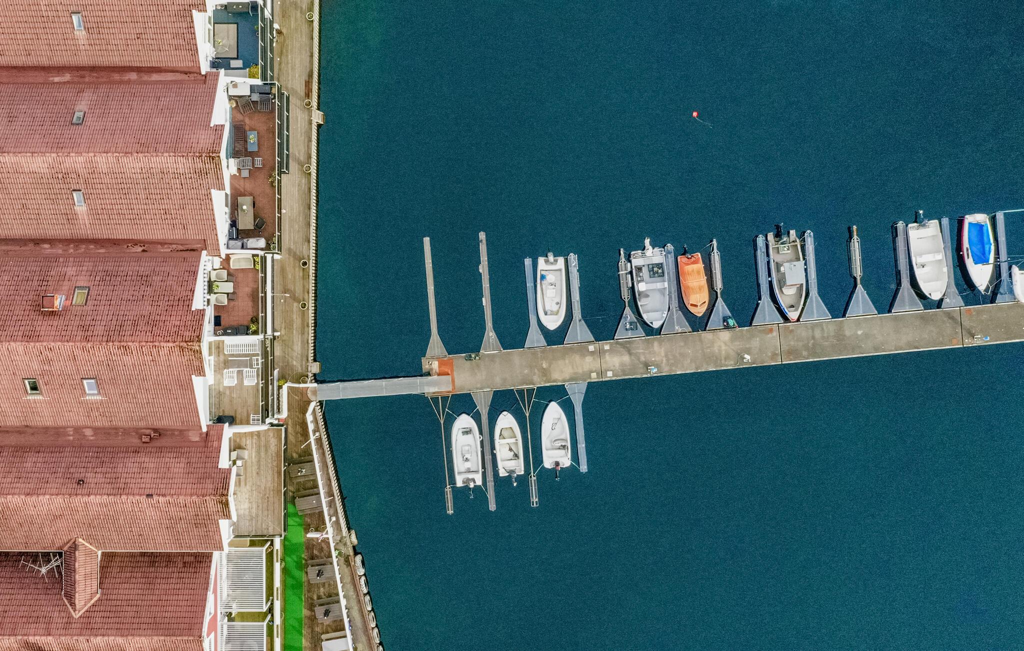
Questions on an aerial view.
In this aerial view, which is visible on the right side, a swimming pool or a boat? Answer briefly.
boat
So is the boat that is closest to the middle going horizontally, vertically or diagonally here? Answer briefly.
vertically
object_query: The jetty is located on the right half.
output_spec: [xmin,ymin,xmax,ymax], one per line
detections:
[423,301,1024,397]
